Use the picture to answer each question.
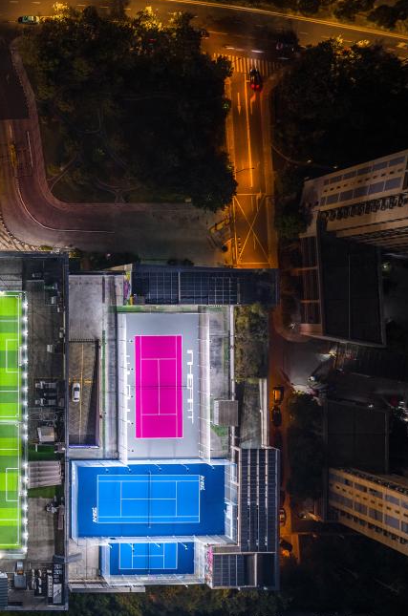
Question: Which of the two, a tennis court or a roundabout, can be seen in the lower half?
tennis court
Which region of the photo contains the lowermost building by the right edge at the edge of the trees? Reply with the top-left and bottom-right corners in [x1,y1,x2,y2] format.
[329,472,408,549]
